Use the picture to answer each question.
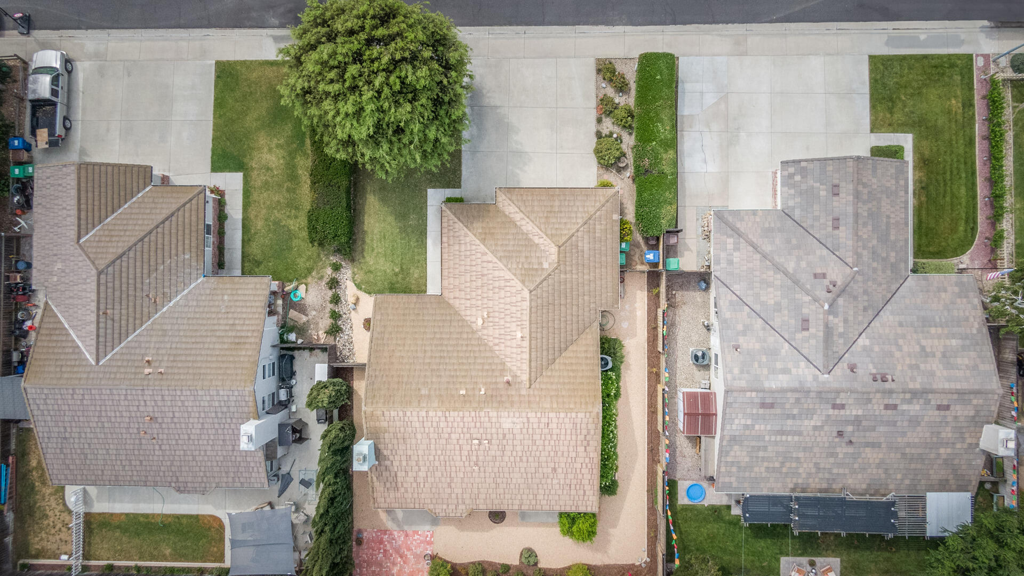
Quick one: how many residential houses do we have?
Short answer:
3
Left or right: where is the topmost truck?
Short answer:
left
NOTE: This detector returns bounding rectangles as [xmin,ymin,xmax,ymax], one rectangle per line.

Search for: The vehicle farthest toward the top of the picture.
[25,49,73,148]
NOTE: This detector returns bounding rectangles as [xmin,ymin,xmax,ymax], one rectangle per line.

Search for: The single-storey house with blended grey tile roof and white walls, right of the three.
[709,155,1015,494]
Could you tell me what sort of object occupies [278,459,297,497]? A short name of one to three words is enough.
umbrella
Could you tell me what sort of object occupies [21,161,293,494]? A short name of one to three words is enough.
house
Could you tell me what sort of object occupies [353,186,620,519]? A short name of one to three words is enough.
house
